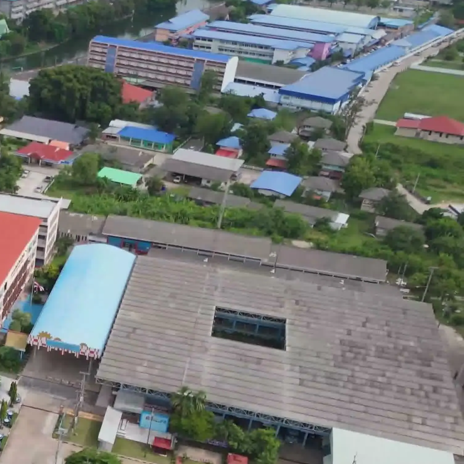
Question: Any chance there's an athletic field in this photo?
Yes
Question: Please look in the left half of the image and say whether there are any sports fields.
No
